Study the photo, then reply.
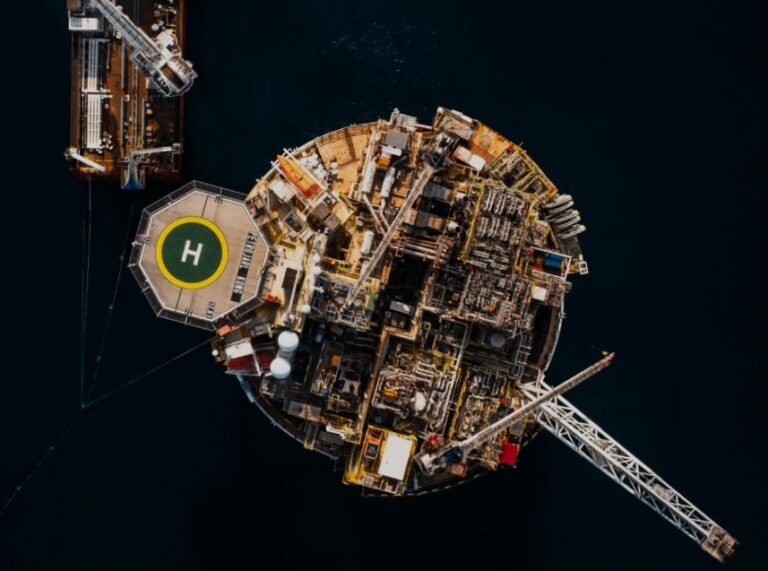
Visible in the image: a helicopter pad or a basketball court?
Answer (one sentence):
This aerial view contains a helicopter pad.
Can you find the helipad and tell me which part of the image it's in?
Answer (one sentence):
The helipad appears toward the left of the photo.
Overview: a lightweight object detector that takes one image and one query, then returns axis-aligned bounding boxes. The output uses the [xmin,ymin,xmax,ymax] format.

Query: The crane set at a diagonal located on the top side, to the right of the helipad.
[341,127,460,310]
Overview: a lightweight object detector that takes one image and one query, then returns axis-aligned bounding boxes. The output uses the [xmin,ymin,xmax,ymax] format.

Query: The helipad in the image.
[129,179,268,332]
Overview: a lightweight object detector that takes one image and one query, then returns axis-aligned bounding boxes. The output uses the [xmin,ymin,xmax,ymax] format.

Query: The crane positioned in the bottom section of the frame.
[410,349,620,476]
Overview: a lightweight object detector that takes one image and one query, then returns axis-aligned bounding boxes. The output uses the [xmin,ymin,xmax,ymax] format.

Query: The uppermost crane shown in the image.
[93,0,198,96]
